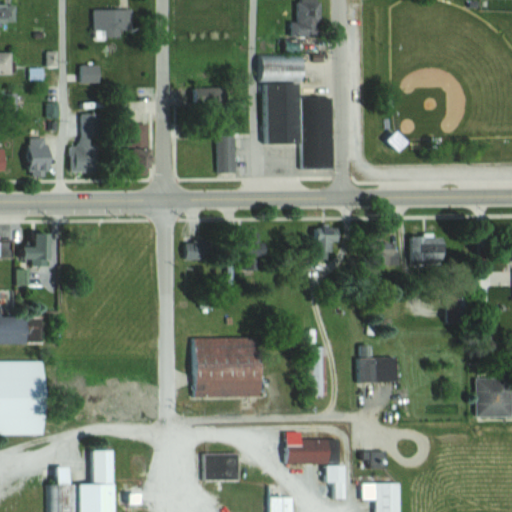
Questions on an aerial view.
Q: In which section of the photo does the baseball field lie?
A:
top right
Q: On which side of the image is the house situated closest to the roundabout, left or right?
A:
right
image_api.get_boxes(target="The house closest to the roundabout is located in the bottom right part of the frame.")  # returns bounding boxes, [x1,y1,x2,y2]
[360,450,388,470]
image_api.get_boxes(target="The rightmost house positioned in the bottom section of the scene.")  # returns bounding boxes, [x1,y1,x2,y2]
[475,377,512,422]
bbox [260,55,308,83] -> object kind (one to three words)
barn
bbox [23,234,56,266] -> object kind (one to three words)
house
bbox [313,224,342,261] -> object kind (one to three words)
house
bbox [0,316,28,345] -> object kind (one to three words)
building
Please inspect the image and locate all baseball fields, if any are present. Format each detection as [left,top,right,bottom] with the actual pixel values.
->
[388,0,512,140]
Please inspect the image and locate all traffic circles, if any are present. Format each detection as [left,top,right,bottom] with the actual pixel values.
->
[384,426,431,468]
